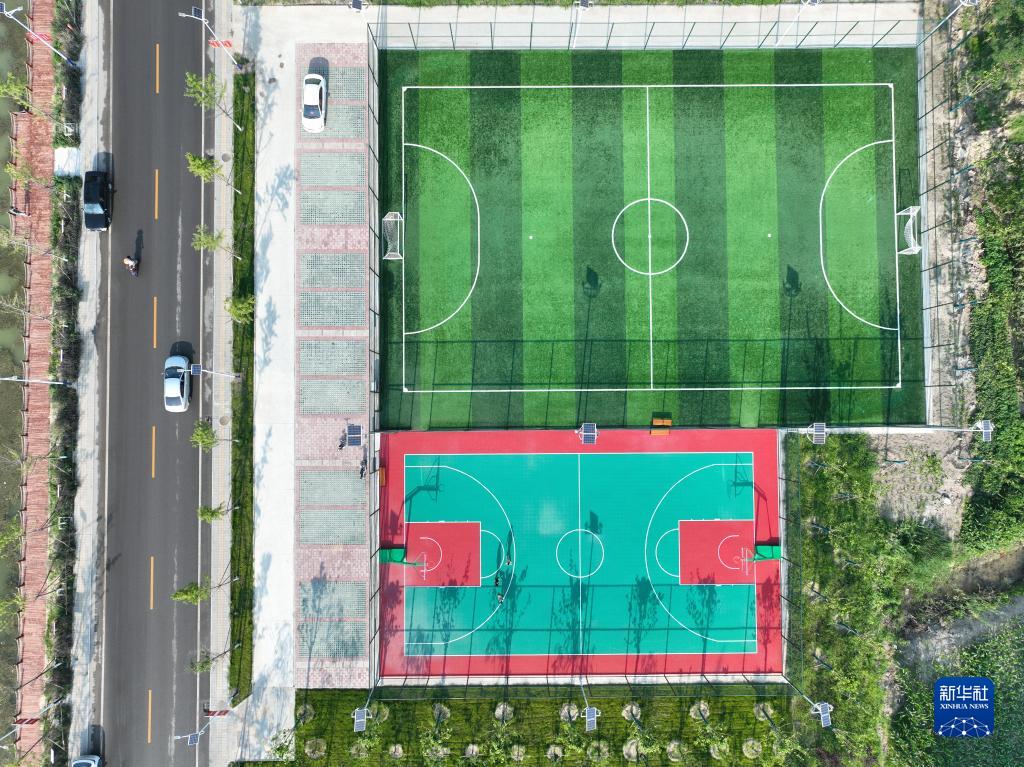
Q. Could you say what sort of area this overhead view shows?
sports ground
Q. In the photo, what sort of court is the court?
basketball court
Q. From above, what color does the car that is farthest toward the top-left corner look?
black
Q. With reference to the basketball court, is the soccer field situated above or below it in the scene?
above it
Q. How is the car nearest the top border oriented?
up and down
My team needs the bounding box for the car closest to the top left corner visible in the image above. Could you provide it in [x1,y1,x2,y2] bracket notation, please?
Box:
[83,171,115,232]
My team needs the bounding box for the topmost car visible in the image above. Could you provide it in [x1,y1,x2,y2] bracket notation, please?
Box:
[301,74,328,135]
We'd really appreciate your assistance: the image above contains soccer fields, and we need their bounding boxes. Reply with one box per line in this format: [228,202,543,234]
[379,47,926,429]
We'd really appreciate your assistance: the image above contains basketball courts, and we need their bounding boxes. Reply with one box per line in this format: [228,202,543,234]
[380,431,785,677]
